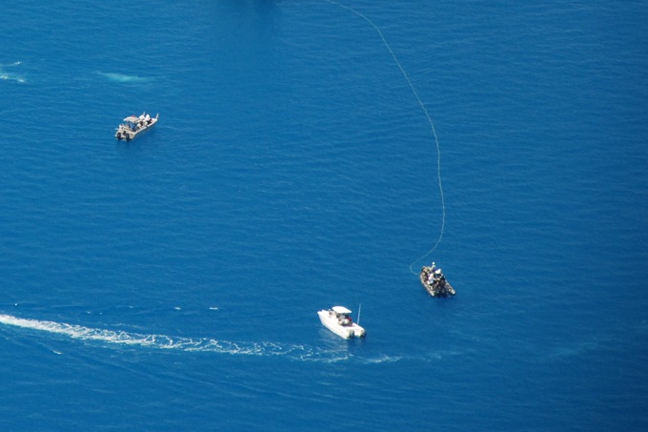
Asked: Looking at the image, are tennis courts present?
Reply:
No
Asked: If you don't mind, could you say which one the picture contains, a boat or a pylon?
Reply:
boat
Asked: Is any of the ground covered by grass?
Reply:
No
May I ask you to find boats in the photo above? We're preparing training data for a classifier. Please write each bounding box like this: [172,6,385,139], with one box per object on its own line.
[419,269,456,297]
[114,111,157,141]
[316,307,364,339]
